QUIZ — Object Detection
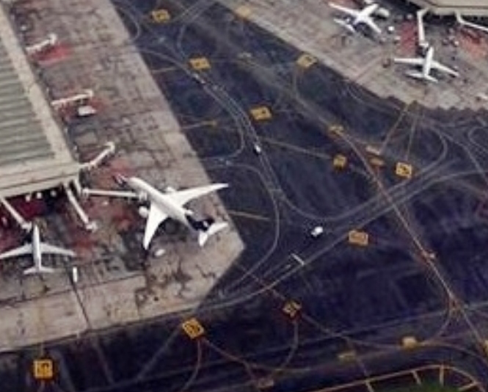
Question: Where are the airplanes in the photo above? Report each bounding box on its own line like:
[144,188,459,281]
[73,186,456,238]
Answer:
[3,225,70,273]
[397,47,455,84]
[128,175,237,244]
[331,3,380,33]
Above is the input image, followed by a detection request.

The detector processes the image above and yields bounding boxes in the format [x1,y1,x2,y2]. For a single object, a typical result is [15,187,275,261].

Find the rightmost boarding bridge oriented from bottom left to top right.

[77,143,117,175]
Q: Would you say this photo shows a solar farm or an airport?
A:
airport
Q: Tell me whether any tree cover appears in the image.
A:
No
